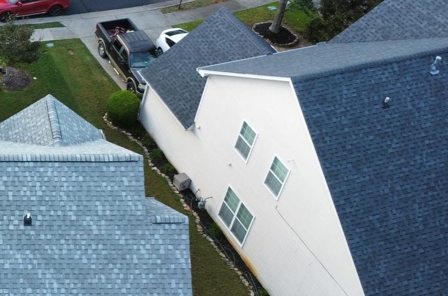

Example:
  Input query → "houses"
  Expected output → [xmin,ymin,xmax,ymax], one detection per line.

[140,0,448,296]
[0,90,192,296]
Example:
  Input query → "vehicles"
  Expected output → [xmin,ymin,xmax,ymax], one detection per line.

[0,0,74,23]
[162,24,197,52]
[94,28,160,100]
